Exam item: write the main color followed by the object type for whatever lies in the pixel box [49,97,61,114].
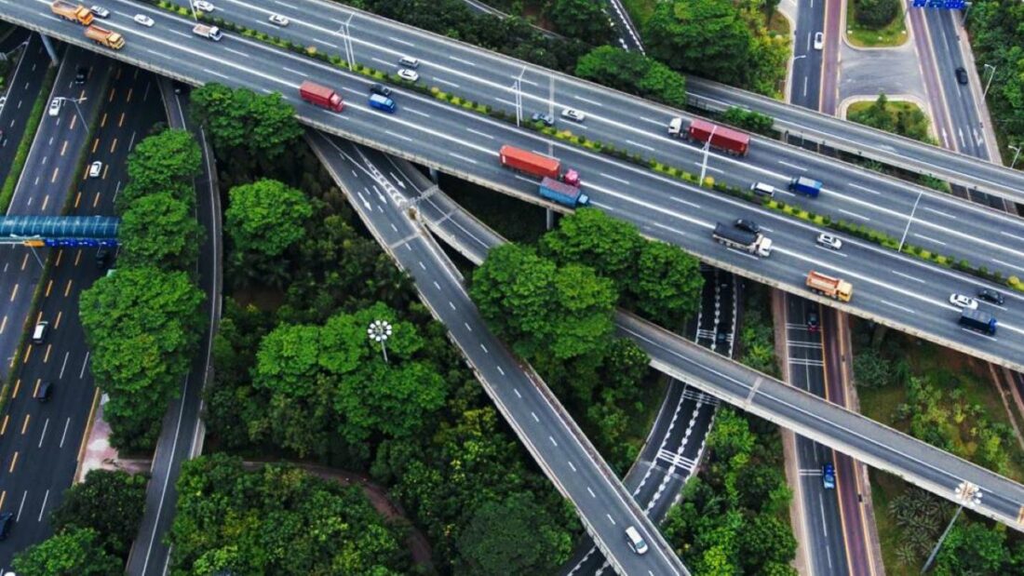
white vehicle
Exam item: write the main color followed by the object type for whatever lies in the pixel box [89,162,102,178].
white vehicle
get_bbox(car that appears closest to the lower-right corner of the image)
[822,467,835,489]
